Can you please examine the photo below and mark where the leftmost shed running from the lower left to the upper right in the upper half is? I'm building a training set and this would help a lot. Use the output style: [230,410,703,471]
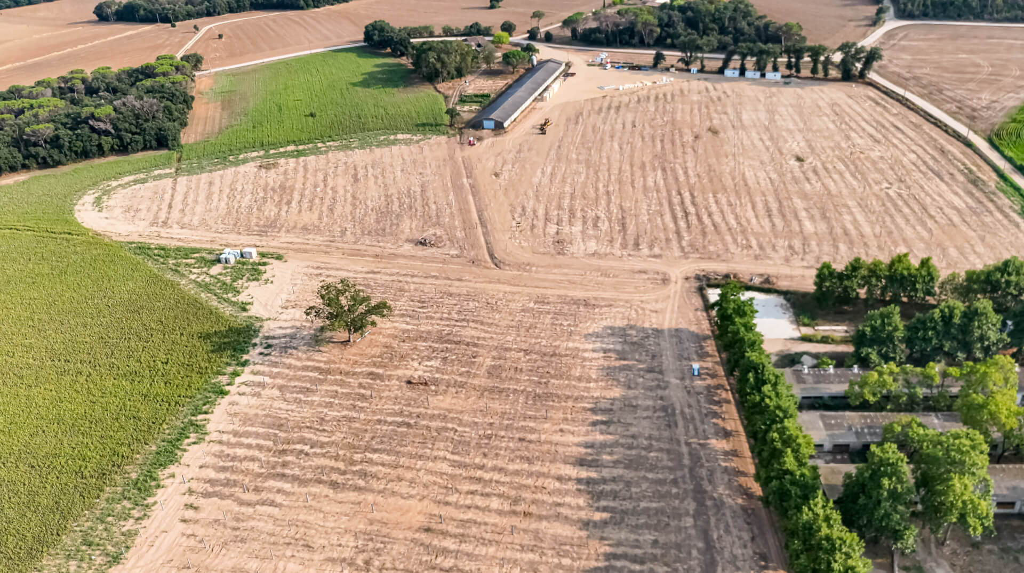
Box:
[463,60,558,131]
